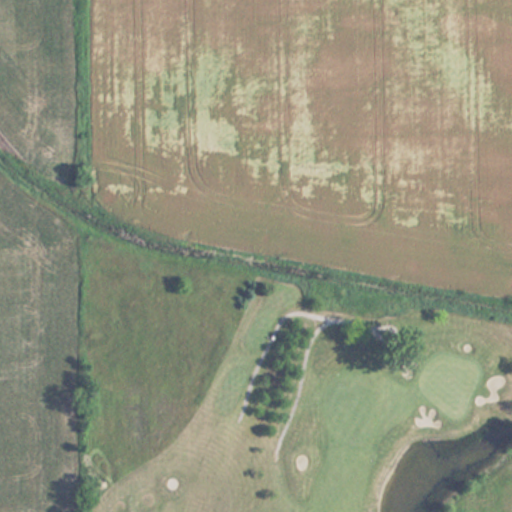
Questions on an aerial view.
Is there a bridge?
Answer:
No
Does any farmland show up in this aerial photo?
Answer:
Yes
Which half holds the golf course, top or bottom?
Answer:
bottom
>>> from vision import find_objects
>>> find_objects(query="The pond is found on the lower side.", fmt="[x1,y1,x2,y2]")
[380,418,512,512]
